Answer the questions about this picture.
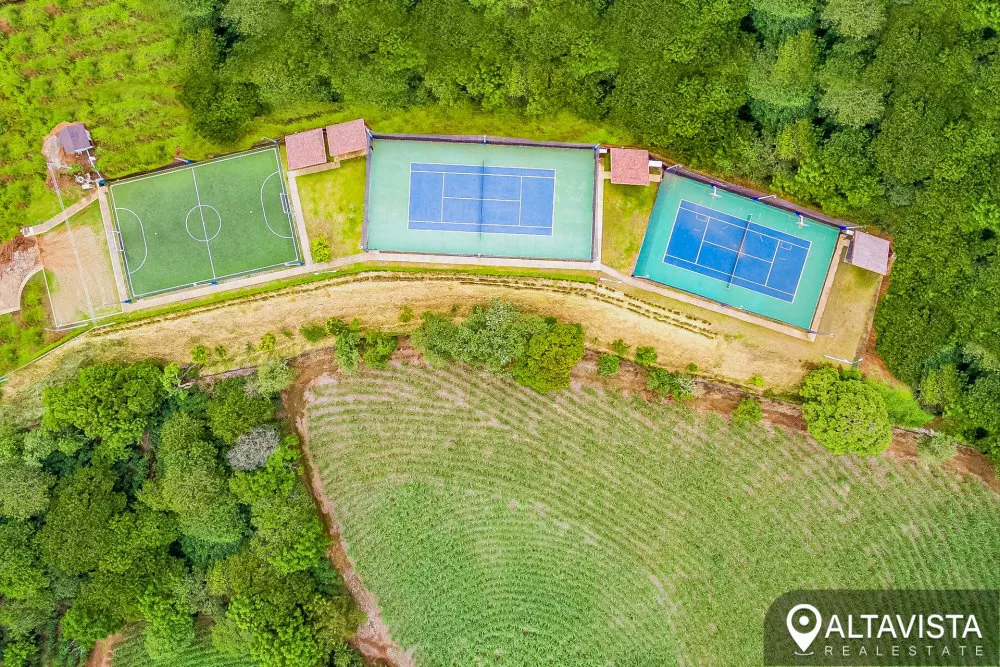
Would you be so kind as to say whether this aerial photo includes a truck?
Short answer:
No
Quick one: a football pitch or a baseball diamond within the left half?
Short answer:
football pitch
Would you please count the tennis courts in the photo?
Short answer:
two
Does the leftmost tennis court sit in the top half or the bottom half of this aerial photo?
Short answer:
top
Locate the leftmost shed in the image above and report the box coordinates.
[60,124,97,153]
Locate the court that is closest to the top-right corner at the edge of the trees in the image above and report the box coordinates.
[634,173,839,330]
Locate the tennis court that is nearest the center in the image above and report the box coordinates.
[367,140,595,261]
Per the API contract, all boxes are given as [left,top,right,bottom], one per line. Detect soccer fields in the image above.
[108,146,303,302]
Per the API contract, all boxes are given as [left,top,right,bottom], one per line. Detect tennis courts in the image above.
[634,173,839,330]
[367,140,595,261]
